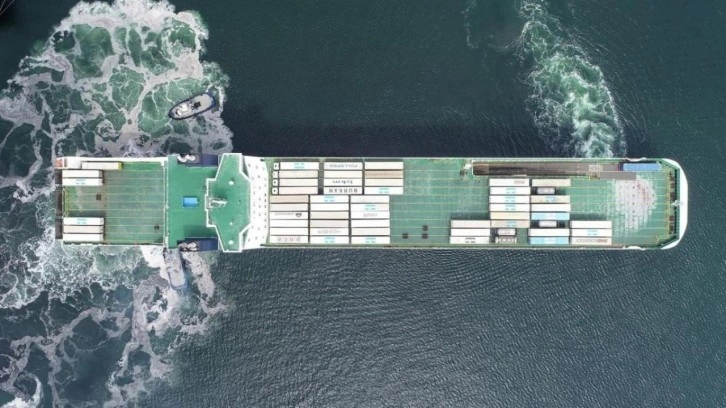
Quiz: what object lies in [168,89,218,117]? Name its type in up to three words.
boat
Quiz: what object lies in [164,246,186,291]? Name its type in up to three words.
boat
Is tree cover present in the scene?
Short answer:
No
